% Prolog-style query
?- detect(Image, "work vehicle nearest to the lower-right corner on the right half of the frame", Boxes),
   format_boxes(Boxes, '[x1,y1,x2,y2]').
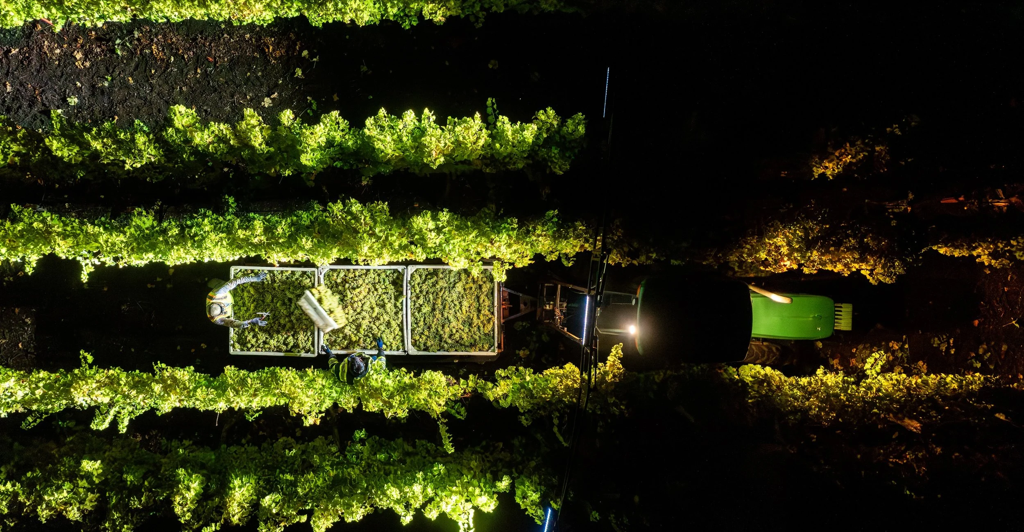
[582,262,851,369]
